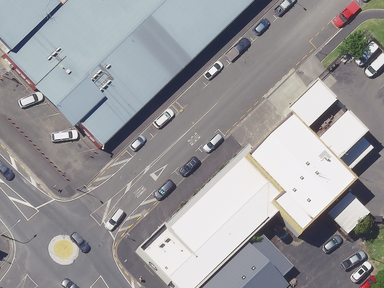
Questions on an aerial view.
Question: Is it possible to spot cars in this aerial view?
Yes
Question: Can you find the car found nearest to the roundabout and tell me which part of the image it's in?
bottom left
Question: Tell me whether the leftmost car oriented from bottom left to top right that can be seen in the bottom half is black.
No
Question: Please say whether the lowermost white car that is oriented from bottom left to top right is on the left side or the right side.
right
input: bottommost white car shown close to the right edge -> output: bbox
[350,261,372,282]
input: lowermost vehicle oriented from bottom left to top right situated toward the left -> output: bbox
[104,208,126,230]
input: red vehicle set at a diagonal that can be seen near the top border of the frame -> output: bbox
[334,2,360,26]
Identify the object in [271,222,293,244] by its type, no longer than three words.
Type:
car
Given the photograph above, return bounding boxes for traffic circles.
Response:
[48,233,79,264]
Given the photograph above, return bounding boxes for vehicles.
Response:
[178,155,200,177]
[152,107,174,128]
[225,38,250,62]
[271,222,293,244]
[350,261,372,282]
[340,250,366,270]
[70,230,91,253]
[154,178,176,200]
[18,92,43,108]
[0,158,15,180]
[358,274,374,288]
[364,54,384,76]
[272,0,296,16]
[202,130,224,152]
[322,232,344,253]
[51,130,77,142]
[355,42,378,64]
[334,2,360,26]
[128,133,148,152]
[104,208,126,230]
[62,278,80,288]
